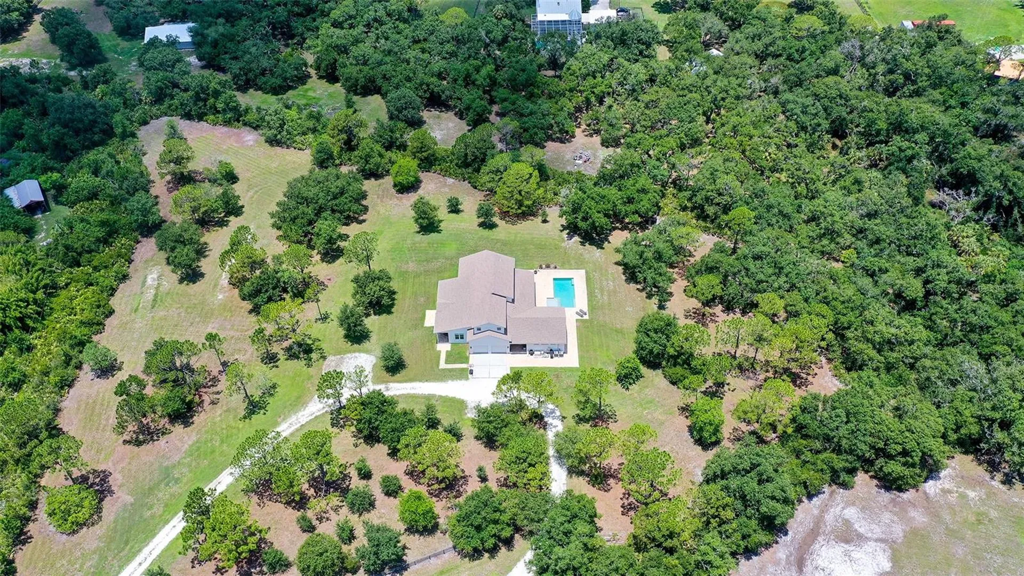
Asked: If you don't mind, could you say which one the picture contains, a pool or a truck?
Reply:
pool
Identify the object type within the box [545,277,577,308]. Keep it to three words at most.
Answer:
swimming pool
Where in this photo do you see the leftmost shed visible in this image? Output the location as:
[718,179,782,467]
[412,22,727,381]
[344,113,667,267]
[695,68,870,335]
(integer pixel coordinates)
[2,180,52,223]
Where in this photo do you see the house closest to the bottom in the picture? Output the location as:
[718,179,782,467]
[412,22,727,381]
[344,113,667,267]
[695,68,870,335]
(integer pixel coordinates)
[434,251,568,354]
